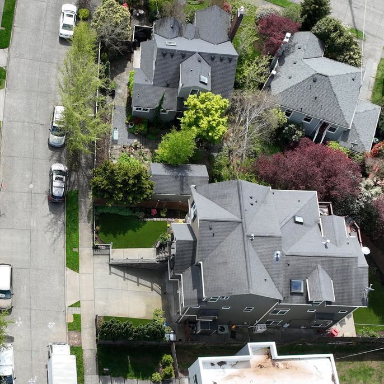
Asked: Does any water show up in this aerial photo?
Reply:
No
